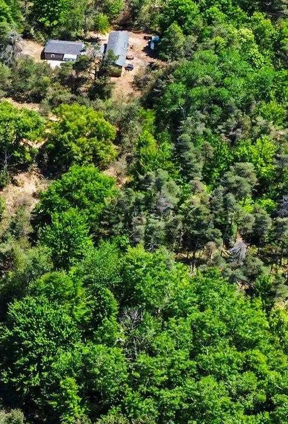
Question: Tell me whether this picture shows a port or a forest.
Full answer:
What you see here is a forest.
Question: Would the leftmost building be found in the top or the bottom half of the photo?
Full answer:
The top half of the photo is where the leftmost building is.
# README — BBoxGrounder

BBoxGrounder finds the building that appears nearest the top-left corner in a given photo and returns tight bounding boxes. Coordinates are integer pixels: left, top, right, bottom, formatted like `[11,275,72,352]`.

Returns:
[44,40,84,62]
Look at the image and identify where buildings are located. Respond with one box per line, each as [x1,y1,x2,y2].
[44,40,84,62]
[96,33,130,79]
